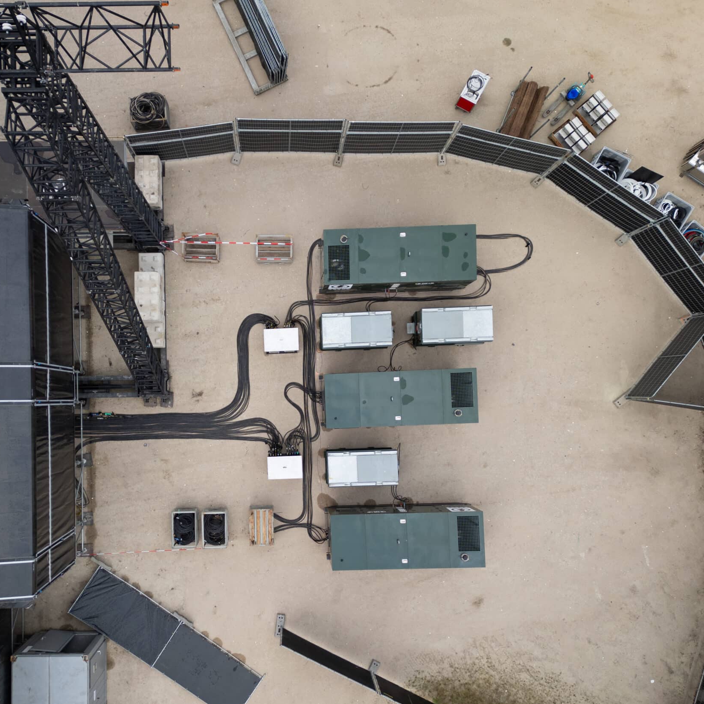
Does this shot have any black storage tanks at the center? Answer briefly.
No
